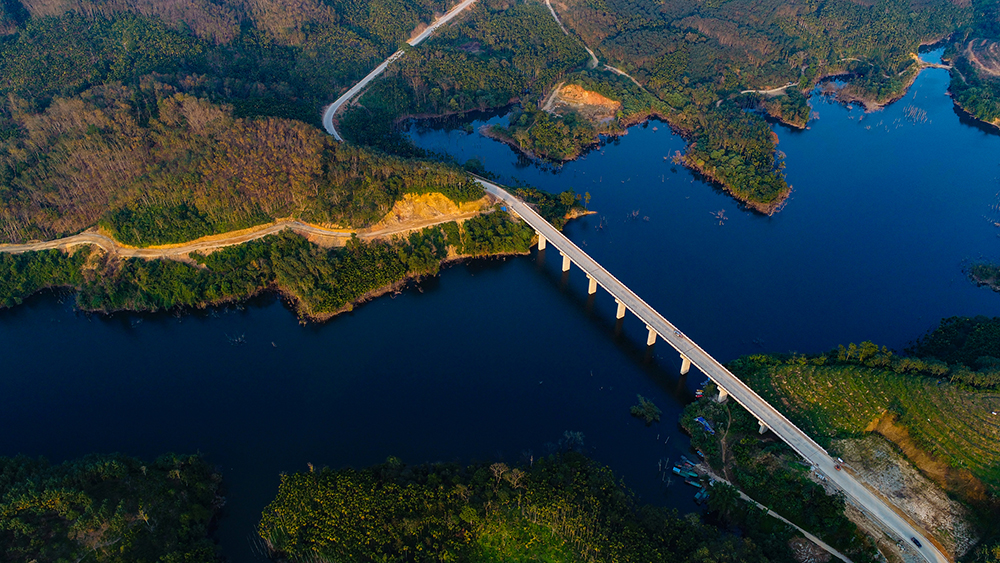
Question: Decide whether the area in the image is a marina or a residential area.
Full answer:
The picture captures a marina.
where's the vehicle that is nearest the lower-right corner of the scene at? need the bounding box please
[909,536,924,549]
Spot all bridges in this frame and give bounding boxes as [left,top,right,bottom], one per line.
[509,204,841,476]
